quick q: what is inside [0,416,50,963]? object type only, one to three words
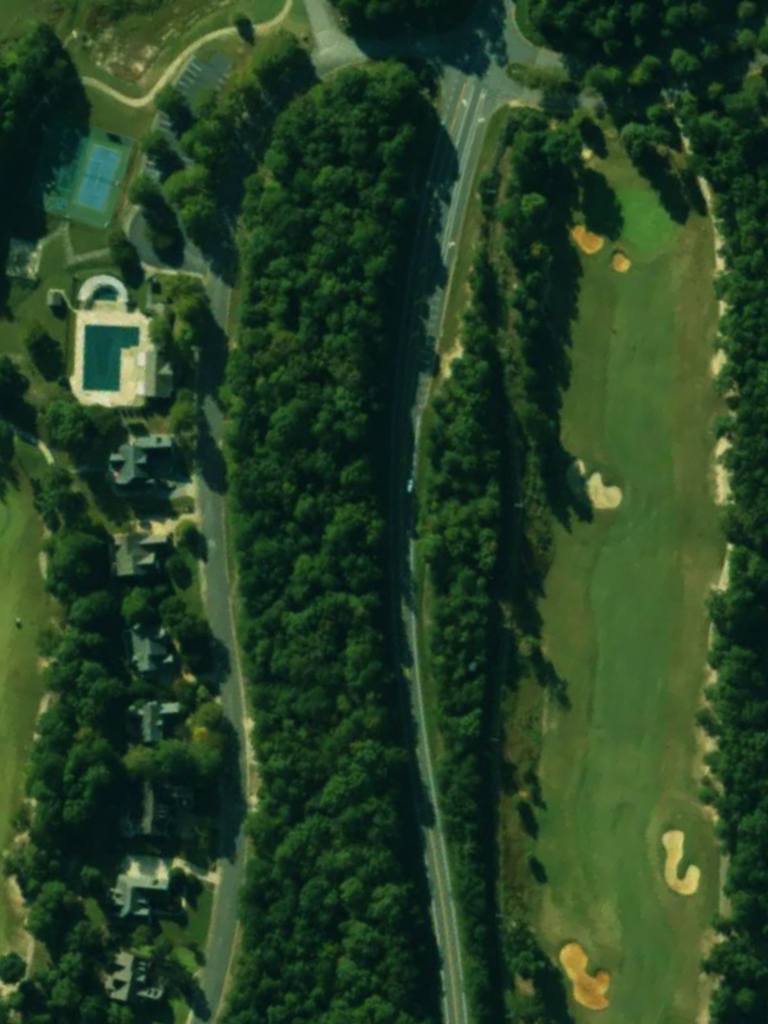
golf course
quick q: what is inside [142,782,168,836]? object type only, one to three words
house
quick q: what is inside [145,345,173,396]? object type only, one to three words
building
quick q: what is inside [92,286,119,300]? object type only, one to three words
swimming pool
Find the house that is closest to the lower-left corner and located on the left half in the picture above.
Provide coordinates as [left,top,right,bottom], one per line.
[103,954,164,1013]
